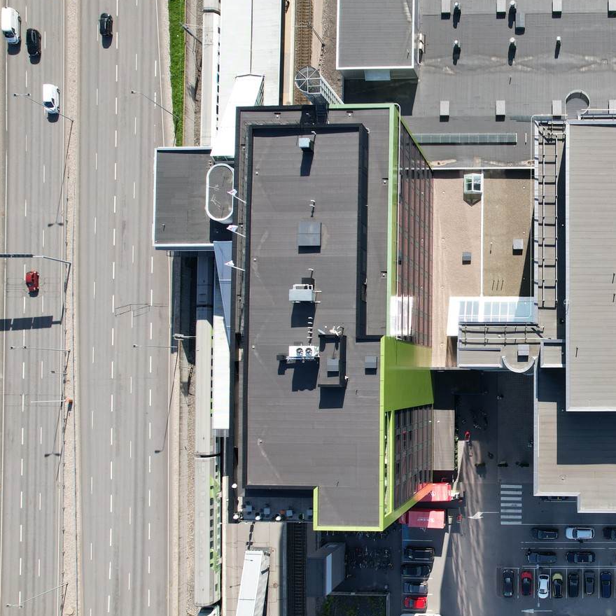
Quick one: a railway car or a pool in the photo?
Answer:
railway car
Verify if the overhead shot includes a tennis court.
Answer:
No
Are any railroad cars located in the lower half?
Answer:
Yes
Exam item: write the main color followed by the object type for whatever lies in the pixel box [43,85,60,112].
white car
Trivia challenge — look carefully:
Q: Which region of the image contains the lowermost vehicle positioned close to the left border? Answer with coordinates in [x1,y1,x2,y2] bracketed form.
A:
[25,270,41,294]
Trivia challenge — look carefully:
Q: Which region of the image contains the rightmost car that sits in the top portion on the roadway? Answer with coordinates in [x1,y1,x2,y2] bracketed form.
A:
[99,12,114,39]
